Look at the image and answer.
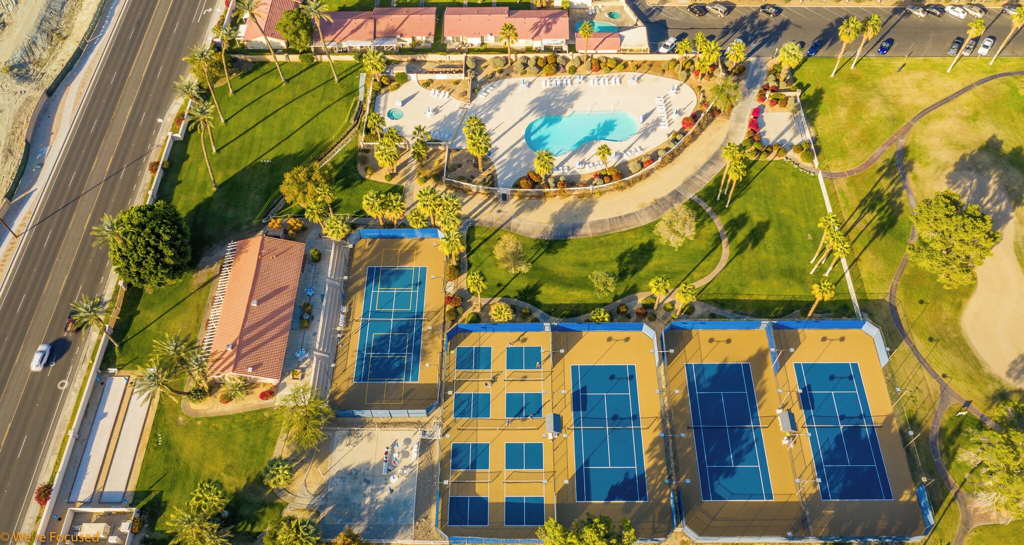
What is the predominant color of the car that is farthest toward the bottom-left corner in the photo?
white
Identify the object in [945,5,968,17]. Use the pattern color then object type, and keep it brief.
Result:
white vehicle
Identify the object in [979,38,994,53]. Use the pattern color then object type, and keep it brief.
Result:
white car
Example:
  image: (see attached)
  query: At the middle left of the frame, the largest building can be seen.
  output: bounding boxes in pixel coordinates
[206,235,305,383]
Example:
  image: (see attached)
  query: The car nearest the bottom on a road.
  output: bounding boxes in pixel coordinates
[30,344,50,369]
